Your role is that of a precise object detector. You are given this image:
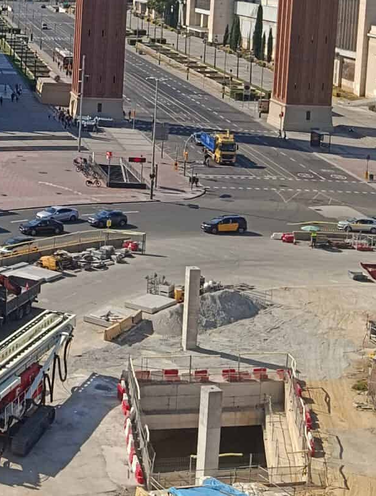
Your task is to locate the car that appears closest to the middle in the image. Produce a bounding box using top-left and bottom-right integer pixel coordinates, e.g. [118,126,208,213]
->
[200,211,249,233]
